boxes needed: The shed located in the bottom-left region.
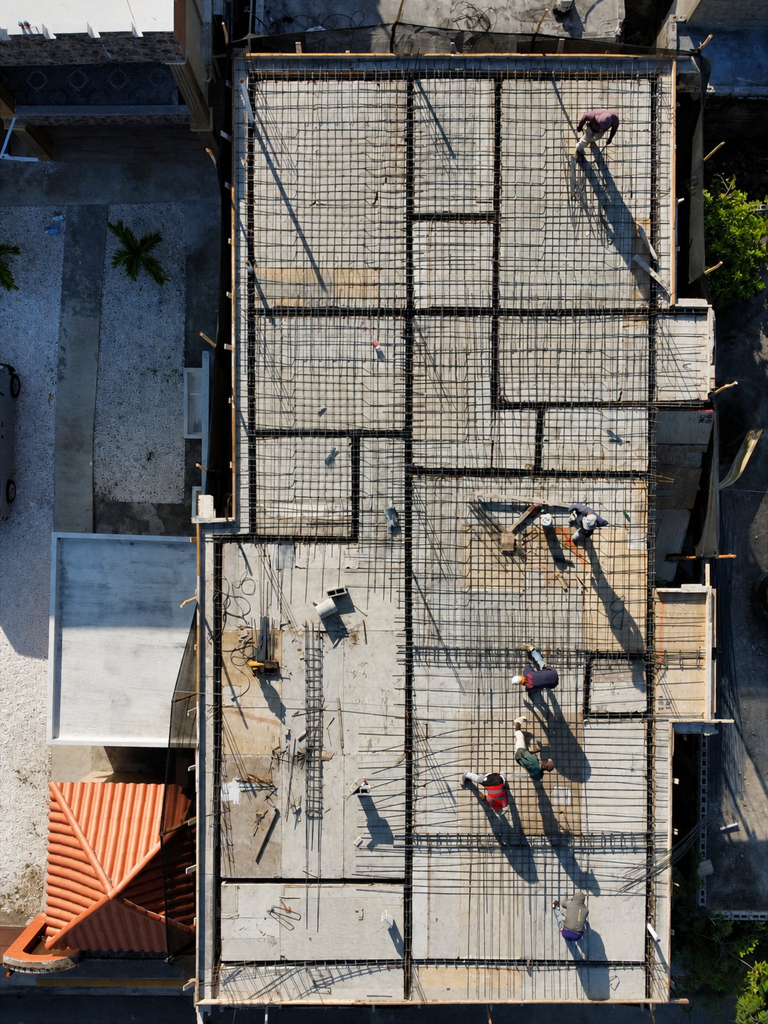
[44,768,167,958]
